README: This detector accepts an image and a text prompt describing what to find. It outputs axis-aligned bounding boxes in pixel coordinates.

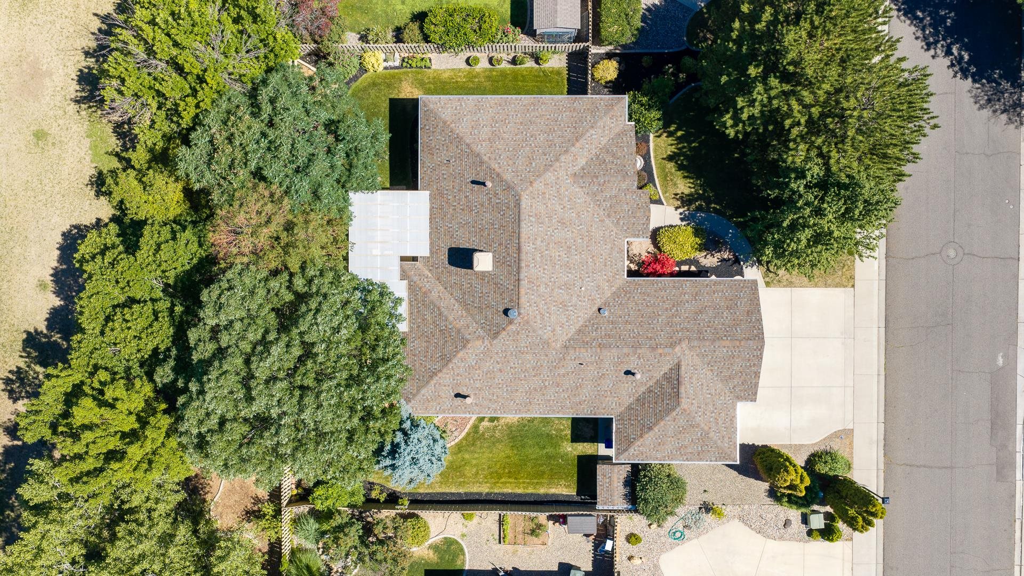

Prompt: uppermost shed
[533,0,580,38]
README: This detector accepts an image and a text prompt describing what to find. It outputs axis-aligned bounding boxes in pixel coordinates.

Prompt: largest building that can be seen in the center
[404,94,766,465]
